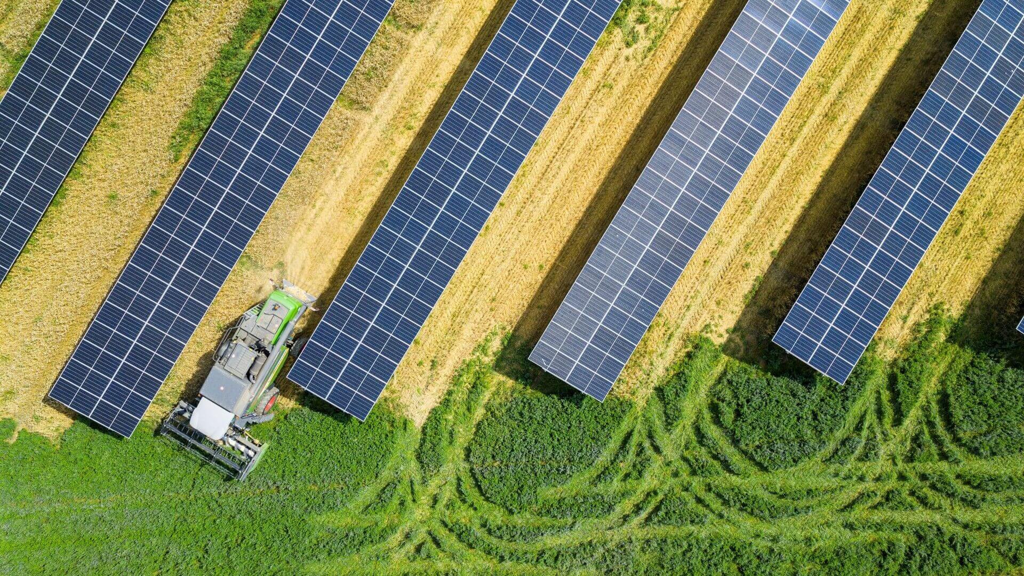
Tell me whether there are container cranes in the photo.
No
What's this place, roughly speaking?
solar farm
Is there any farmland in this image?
Yes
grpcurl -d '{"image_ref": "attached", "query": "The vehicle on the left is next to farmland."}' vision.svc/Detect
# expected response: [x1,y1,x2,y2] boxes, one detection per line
[159,278,322,480]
